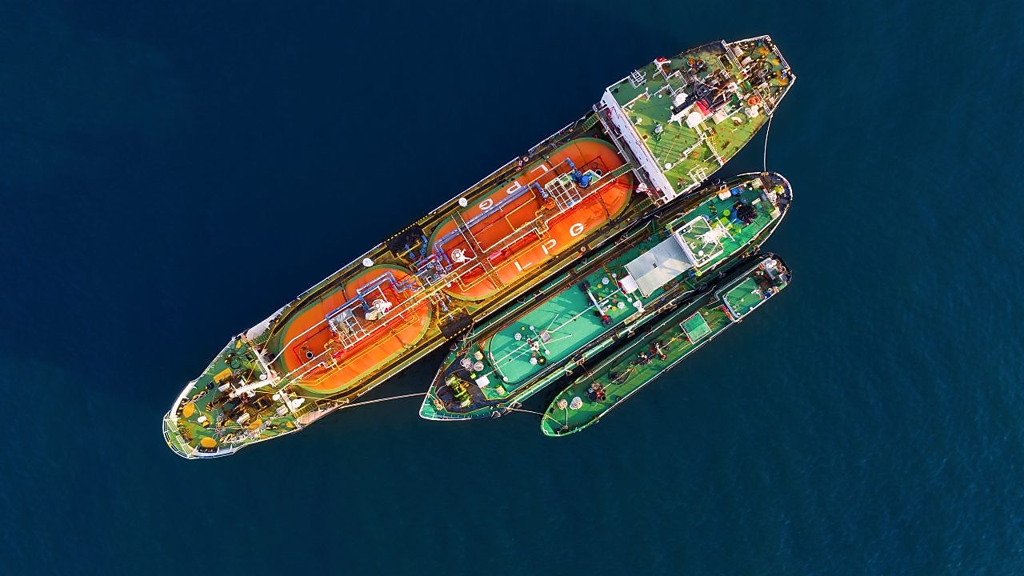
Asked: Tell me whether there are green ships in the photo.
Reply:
Yes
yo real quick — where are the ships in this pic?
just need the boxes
[159,32,799,461]
[541,251,794,437]
[419,171,795,423]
